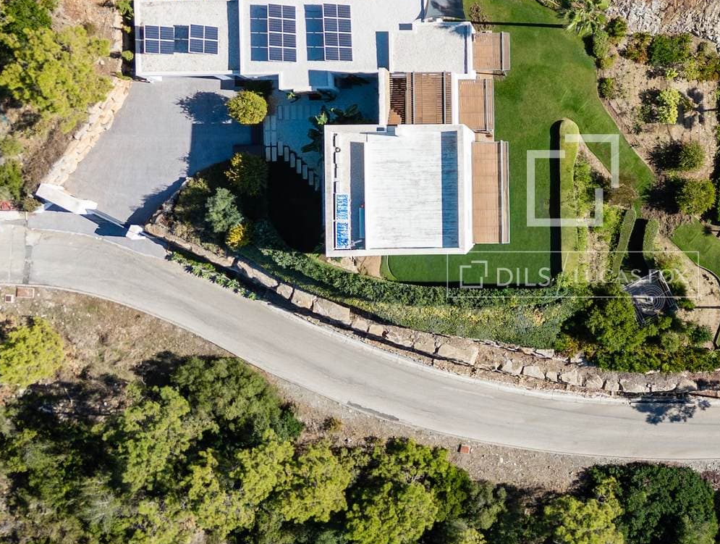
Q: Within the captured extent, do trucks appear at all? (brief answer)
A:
No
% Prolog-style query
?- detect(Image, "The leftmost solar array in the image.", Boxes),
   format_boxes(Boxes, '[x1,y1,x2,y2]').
[145,26,175,57]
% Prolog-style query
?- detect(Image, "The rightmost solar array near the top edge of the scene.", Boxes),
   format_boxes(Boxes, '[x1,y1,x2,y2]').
[324,3,352,63]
